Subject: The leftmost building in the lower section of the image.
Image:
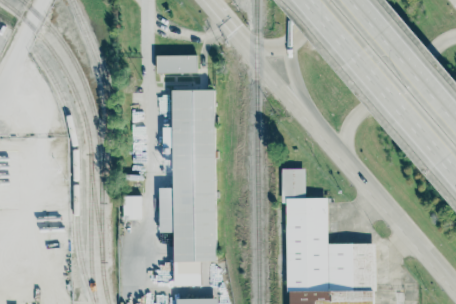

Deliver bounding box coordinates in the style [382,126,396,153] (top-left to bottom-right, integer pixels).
[124,196,143,221]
